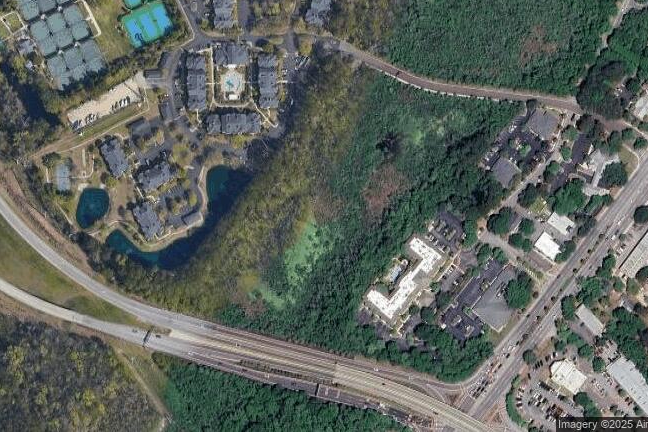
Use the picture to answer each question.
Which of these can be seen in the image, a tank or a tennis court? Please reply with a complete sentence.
Visible in the photo is a tennis court.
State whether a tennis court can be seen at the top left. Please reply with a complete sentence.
Yes, a tennis court appears at the top left.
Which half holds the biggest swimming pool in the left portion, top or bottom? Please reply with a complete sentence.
The biggest swimming pool in the left portion sits in the top half of the picture.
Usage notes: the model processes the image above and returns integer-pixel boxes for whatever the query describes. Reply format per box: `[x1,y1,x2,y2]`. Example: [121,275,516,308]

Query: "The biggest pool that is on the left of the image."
[222,70,245,93]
